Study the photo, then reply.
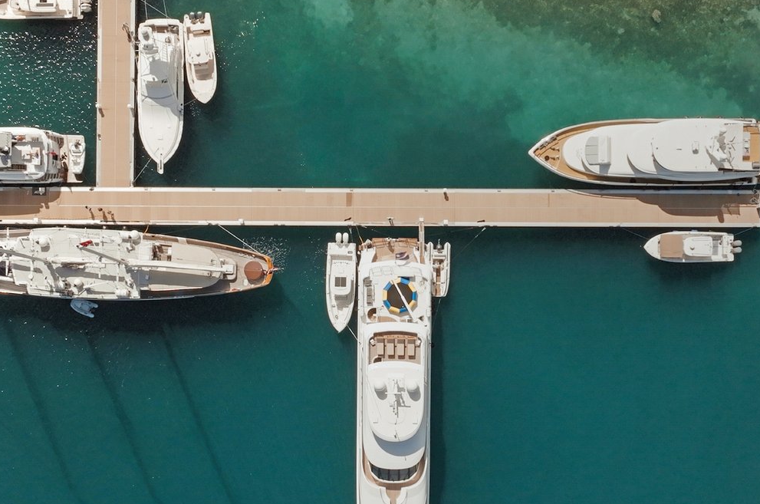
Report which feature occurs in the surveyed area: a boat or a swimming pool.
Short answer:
boat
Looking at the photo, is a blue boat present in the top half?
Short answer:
No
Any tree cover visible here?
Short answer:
No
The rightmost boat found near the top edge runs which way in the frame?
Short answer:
vertically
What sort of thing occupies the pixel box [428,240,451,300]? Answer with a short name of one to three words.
boat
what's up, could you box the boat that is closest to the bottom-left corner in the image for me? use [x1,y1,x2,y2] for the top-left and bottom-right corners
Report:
[71,299,97,317]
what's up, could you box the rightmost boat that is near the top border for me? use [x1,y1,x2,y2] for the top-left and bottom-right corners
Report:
[185,12,216,104]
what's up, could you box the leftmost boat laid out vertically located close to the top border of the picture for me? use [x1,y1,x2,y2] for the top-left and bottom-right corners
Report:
[135,0,185,173]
